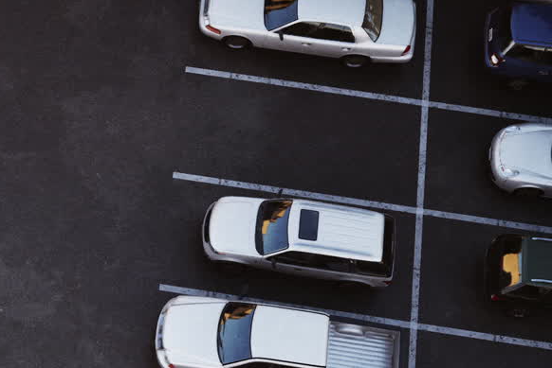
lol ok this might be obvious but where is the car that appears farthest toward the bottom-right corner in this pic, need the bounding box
[480,235,552,316]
